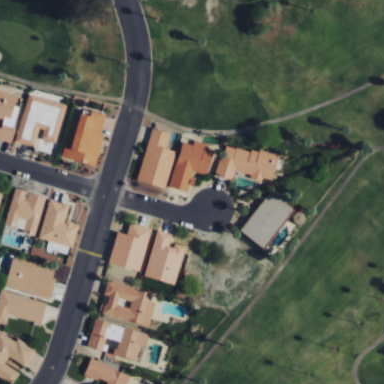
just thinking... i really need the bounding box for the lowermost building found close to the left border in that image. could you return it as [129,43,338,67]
[0,330,34,382]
